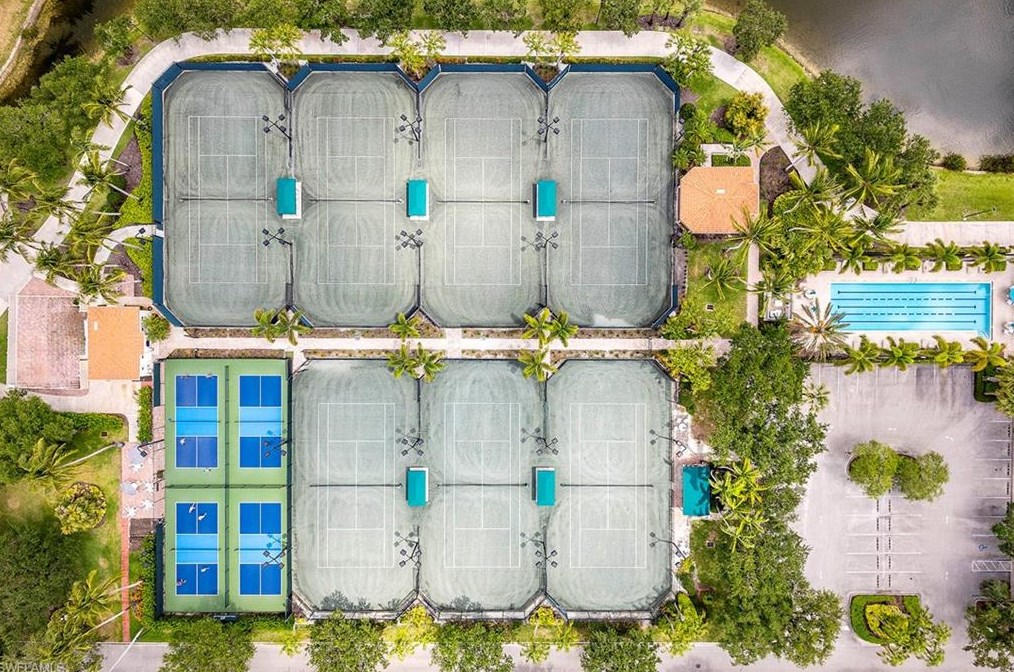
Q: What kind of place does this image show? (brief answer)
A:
sports ground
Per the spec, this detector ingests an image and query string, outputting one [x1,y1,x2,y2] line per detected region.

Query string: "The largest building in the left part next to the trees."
[87,306,150,381]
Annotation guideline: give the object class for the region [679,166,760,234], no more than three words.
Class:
building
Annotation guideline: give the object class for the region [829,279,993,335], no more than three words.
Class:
swimming pool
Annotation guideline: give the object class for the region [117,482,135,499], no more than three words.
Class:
umbrella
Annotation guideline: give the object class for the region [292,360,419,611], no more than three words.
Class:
tennis court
